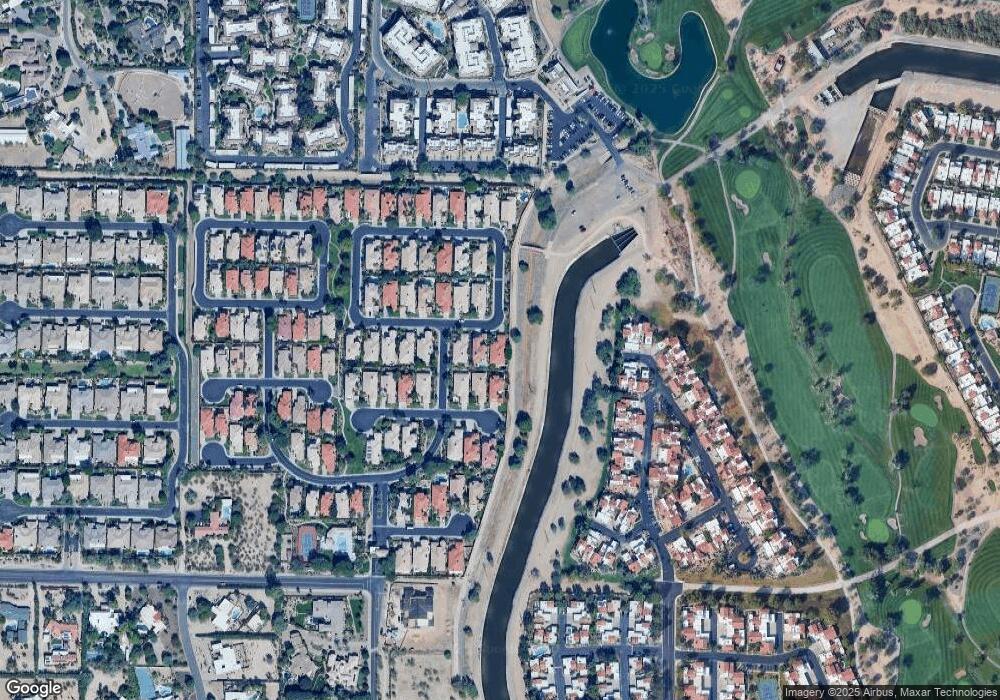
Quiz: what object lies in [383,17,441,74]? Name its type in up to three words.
building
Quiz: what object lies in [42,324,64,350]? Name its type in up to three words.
house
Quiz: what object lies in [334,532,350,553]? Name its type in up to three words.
swimming pool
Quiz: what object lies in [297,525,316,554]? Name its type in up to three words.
tennis court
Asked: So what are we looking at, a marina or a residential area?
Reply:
residential area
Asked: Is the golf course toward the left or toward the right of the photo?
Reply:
right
